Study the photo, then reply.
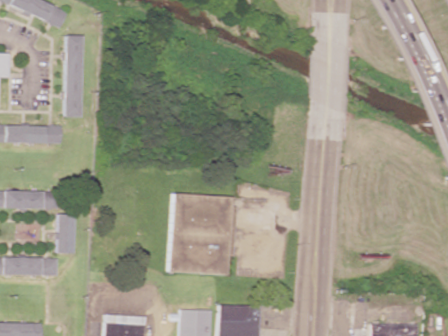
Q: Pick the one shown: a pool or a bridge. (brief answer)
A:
bridge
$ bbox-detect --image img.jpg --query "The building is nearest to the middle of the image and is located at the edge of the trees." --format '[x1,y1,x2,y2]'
[166,194,236,276]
